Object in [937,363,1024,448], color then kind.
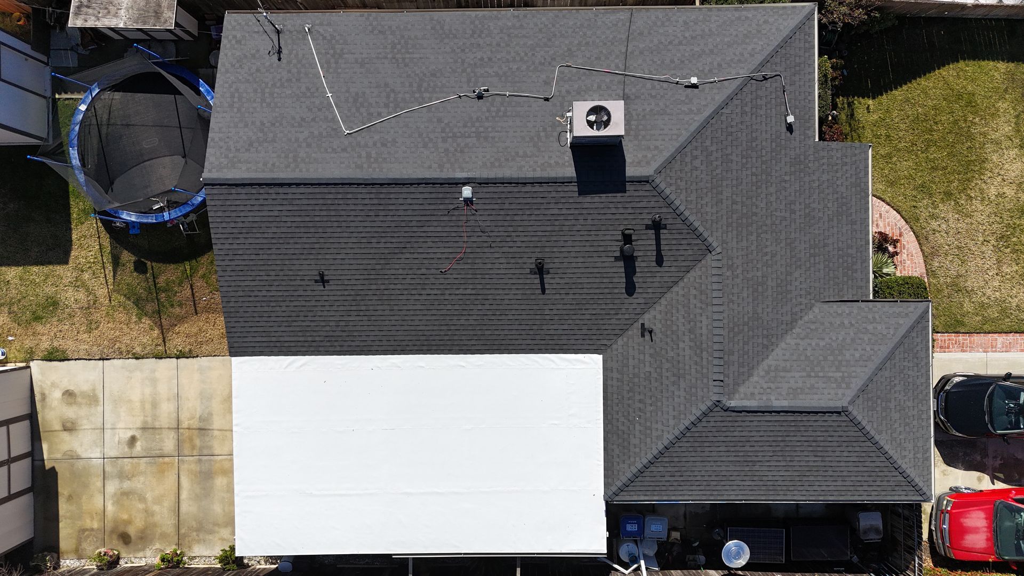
black car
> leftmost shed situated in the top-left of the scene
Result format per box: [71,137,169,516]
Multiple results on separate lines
[0,34,50,144]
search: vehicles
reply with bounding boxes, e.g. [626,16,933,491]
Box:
[924,481,1024,576]
[937,363,1024,448]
